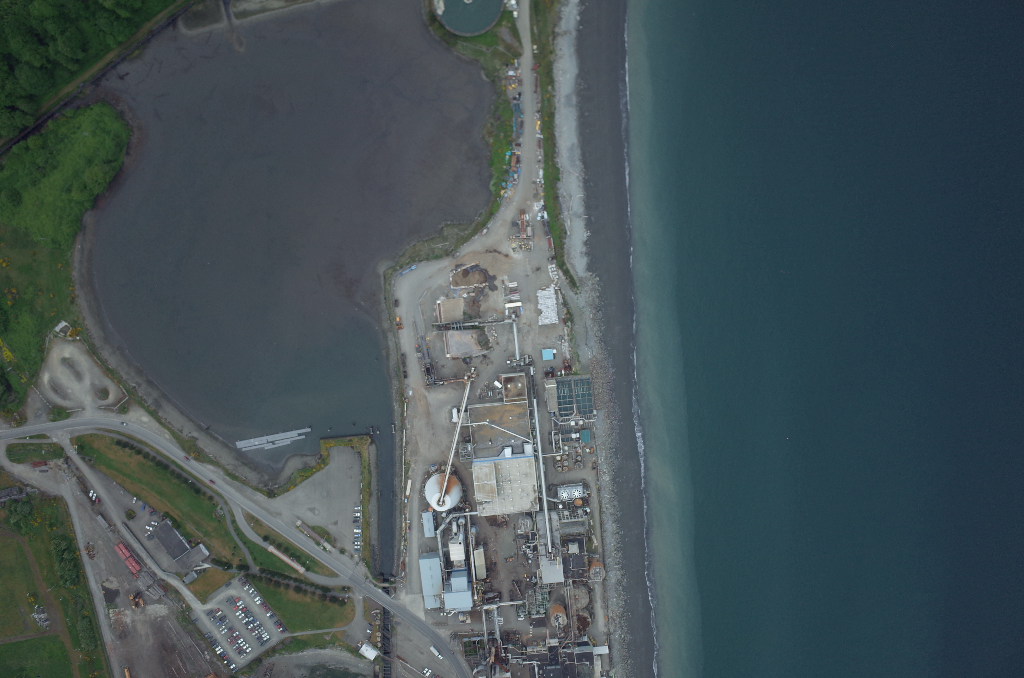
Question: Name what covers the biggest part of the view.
water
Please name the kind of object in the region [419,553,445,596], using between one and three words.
shed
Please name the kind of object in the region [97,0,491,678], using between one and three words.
pond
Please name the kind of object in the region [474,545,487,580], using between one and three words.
building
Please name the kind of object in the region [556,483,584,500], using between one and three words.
cooling tower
